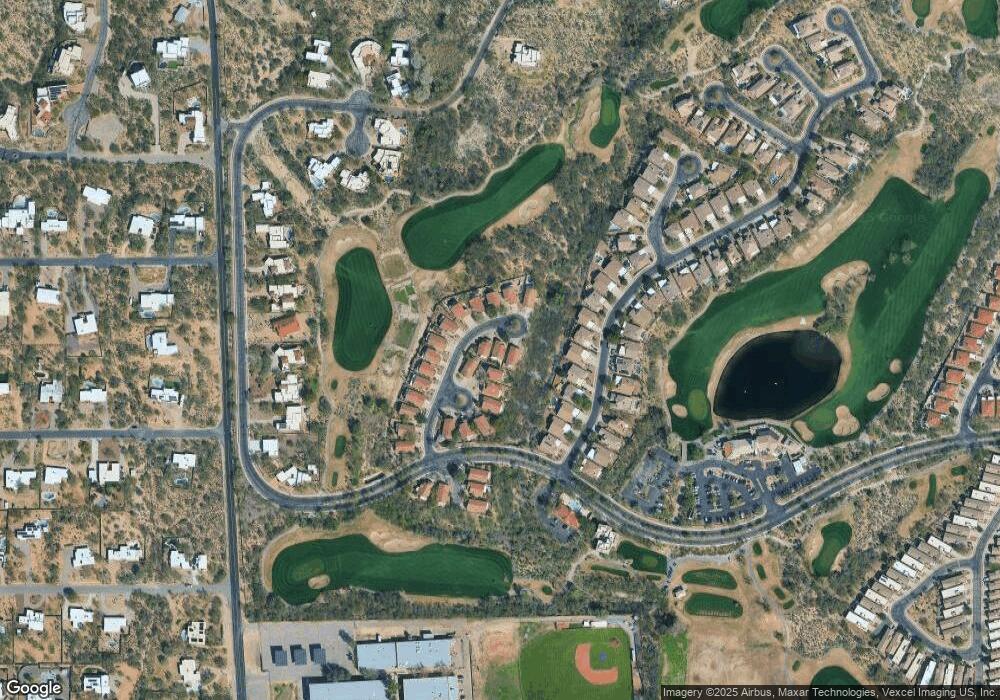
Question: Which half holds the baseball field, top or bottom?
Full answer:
It is in the bottom half that the baseball field appears.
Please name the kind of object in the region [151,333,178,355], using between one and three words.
house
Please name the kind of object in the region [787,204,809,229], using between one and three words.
house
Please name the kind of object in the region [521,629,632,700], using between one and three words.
baseball field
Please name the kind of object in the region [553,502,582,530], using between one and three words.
building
